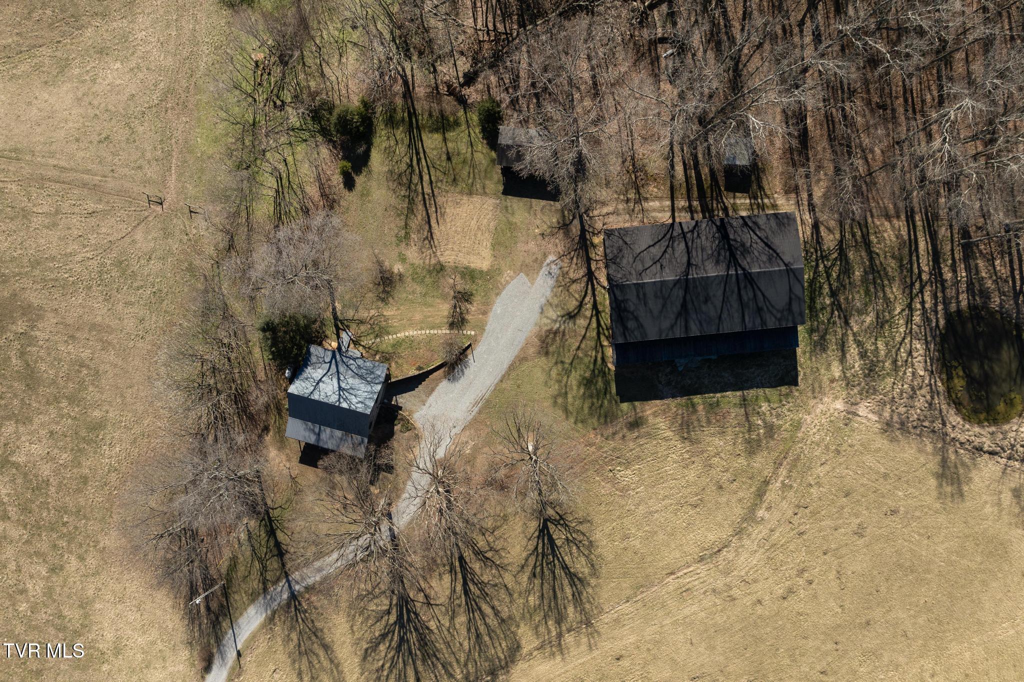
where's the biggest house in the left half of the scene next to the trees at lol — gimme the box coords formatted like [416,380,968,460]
[286,347,387,457]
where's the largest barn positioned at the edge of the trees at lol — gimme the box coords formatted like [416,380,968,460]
[599,211,809,365]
